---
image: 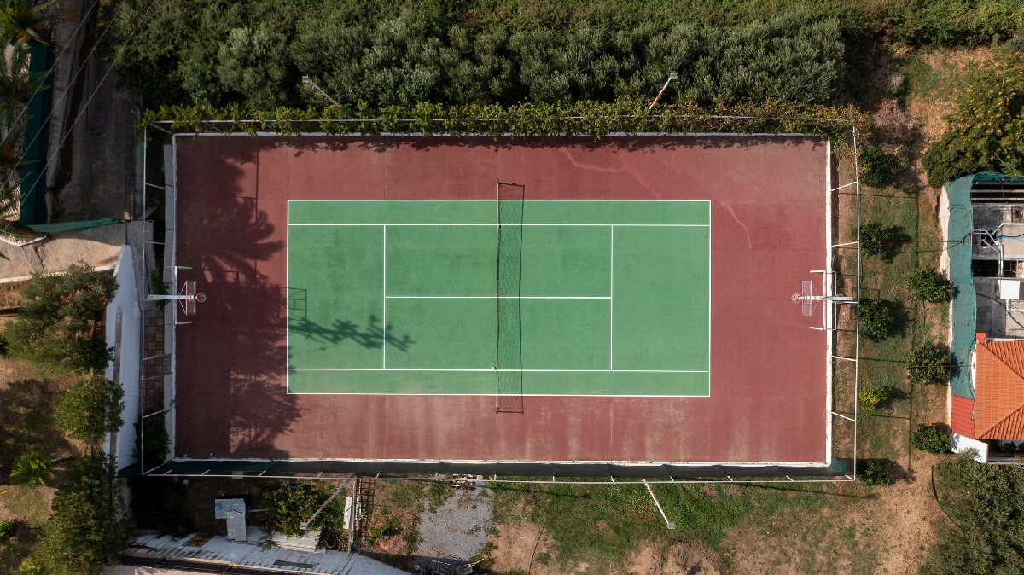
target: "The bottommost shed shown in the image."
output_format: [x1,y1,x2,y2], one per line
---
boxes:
[117,528,420,575]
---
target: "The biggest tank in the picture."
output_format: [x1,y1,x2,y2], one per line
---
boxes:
[994,280,1023,300]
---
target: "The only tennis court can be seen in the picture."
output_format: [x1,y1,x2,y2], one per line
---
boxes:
[175,135,827,462]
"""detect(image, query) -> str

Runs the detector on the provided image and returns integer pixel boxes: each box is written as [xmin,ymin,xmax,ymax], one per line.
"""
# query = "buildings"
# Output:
[117,528,420,575]
[944,177,1024,464]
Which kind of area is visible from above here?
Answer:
sports ground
